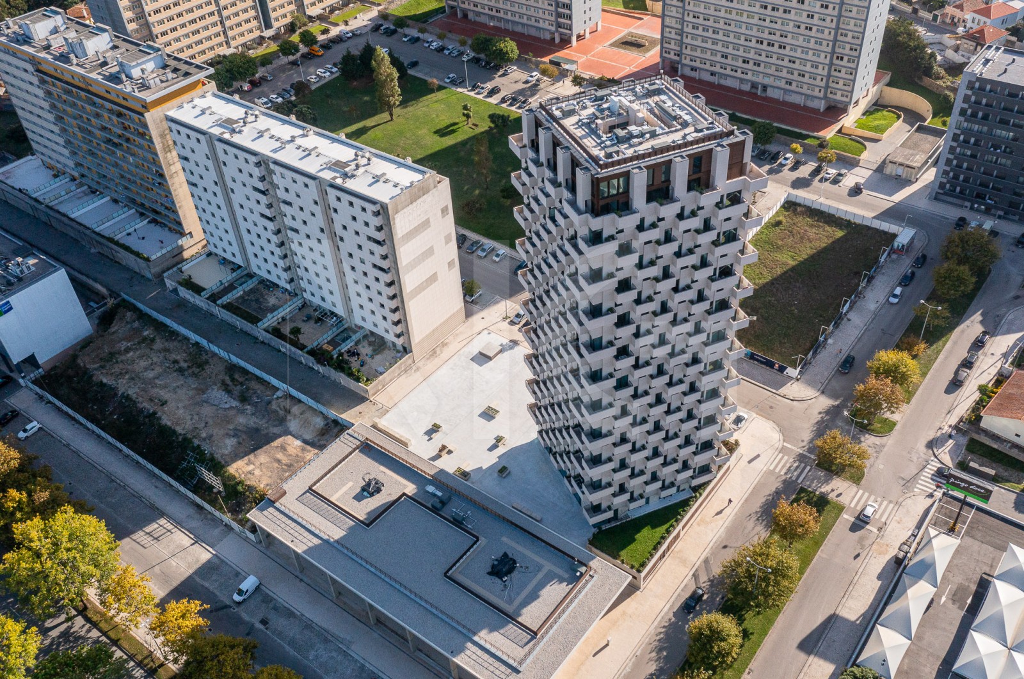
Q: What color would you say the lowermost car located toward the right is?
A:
black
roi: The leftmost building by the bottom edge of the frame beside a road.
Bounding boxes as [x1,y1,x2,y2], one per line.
[245,423,629,679]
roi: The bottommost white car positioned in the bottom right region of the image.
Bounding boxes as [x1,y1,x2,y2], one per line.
[857,503,880,524]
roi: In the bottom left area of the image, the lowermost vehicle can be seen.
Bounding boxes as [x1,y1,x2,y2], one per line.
[230,571,262,604]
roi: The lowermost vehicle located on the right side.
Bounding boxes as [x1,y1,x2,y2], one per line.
[678,588,709,614]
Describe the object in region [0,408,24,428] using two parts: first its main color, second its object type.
black car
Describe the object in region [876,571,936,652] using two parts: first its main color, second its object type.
white tent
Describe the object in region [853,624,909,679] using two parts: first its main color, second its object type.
white tent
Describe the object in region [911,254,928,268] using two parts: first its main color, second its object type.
black car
